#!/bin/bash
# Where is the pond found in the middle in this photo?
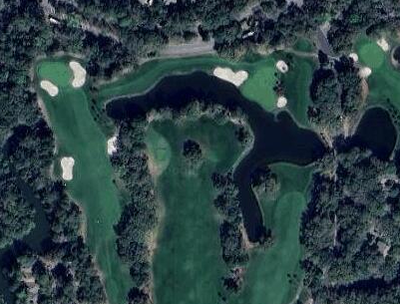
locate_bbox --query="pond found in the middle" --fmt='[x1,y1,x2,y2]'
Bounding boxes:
[103,71,327,243]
